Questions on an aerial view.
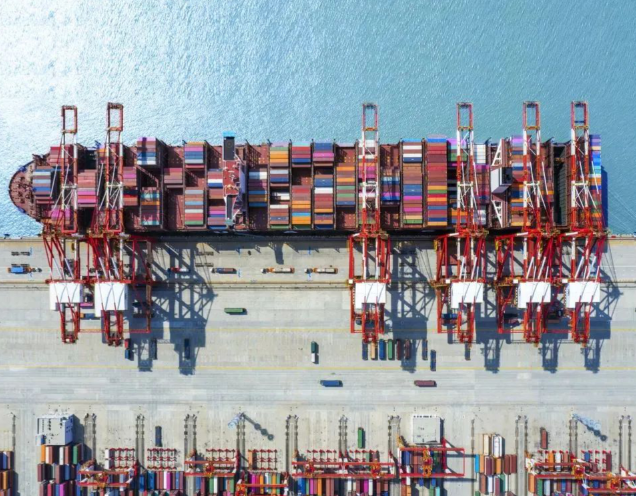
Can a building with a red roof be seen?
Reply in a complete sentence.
No, I can see no building with a red roof in this picture.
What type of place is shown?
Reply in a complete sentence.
It's a port.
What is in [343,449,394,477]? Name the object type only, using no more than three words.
container crane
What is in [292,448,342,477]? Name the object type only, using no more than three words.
container crane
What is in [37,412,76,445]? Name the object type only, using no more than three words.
building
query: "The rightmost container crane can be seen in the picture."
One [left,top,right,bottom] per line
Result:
[576,466,636,492]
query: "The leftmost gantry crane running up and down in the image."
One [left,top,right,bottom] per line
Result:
[42,104,120,342]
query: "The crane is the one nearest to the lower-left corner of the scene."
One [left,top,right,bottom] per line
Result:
[78,458,138,485]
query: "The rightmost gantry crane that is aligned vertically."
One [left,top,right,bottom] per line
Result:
[534,101,605,342]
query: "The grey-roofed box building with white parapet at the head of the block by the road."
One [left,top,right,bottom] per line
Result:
[407,411,440,442]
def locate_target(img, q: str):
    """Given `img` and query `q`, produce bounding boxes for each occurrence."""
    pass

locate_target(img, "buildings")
[407,411,440,442]
[37,412,76,445]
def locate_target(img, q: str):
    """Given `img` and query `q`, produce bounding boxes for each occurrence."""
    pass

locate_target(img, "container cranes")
[78,458,138,485]
[576,466,636,492]
[396,436,463,477]
[525,450,586,479]
[534,101,605,342]
[343,449,394,477]
[348,102,390,342]
[42,104,120,342]
[91,101,161,342]
[237,469,288,496]
[184,448,238,477]
[292,448,342,477]
[491,101,553,342]
[432,102,484,342]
